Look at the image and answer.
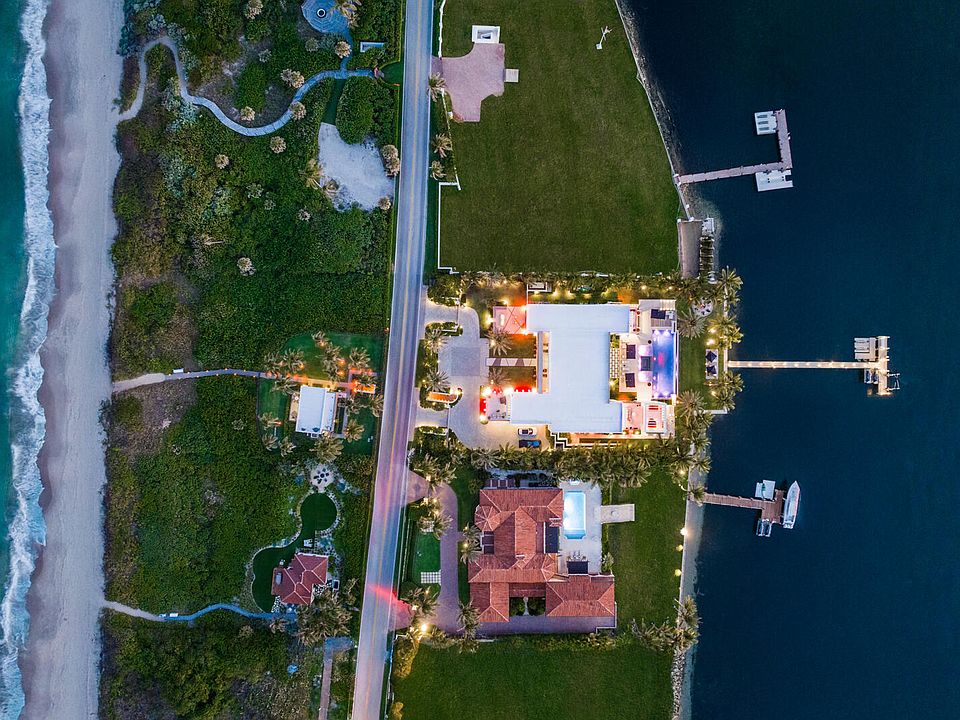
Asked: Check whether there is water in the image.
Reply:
Yes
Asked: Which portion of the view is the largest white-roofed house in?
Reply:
center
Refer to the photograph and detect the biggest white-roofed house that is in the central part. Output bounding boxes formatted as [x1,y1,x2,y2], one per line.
[483,277,631,448]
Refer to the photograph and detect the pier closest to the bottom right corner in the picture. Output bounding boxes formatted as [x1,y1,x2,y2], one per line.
[701,488,785,524]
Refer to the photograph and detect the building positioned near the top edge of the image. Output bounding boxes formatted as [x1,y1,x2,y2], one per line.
[472,25,500,48]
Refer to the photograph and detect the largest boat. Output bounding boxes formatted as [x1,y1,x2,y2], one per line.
[782,481,798,530]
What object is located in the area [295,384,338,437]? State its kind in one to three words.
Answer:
house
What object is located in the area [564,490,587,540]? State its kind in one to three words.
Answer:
swimming pool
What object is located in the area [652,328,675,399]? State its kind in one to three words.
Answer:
swimming pool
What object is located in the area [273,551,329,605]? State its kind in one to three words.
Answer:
building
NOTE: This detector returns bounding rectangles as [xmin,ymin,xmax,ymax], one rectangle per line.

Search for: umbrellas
[707,366,716,375]
[625,373,635,387]
[705,351,717,363]
[626,344,636,359]
[651,309,666,319]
